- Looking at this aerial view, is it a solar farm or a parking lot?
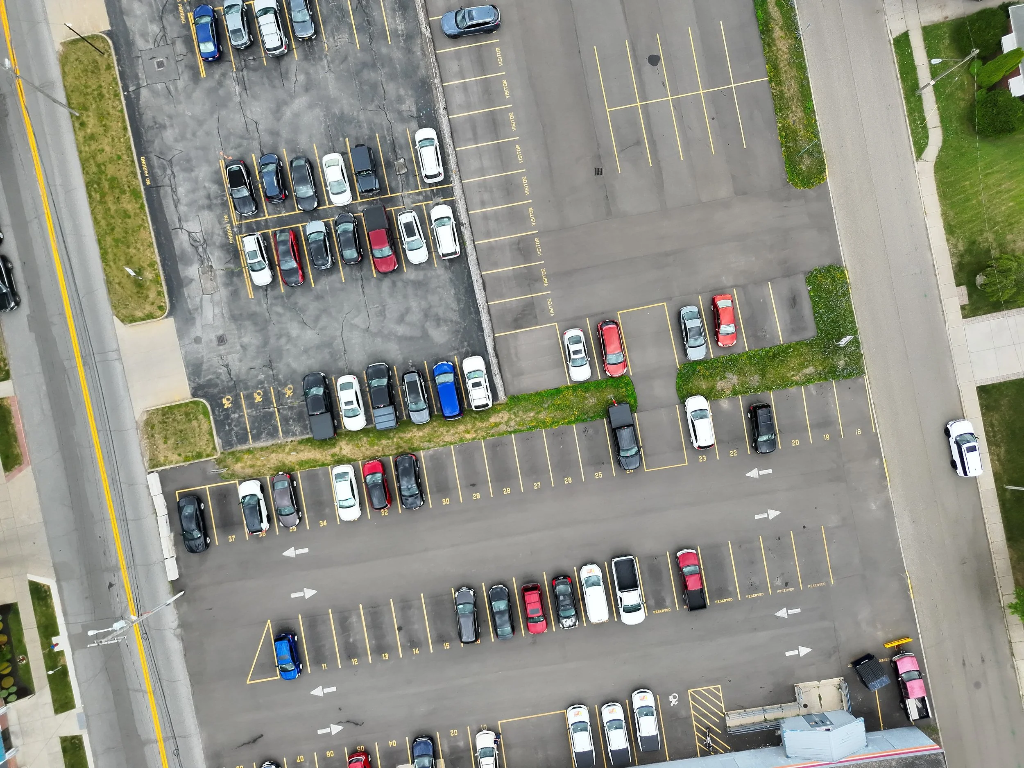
parking lot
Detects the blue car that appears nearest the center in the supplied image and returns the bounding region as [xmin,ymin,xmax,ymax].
[433,361,465,422]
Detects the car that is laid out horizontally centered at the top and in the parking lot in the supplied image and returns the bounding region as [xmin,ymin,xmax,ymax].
[440,5,502,38]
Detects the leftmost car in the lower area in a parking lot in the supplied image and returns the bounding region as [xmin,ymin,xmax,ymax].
[177,494,209,553]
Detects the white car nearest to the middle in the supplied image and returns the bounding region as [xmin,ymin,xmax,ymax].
[463,355,493,412]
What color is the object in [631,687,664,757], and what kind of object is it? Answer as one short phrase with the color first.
white truck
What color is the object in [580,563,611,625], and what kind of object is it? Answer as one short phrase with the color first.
white van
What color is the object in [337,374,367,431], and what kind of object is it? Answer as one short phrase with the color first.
white car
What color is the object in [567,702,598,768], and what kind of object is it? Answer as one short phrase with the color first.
white truck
